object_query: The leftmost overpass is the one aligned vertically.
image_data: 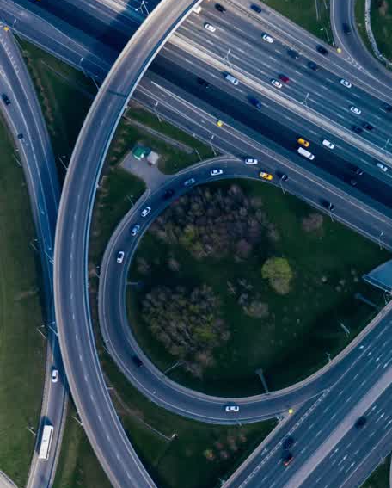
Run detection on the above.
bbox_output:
[52,0,204,488]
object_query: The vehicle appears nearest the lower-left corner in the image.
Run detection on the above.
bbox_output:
[38,425,54,461]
